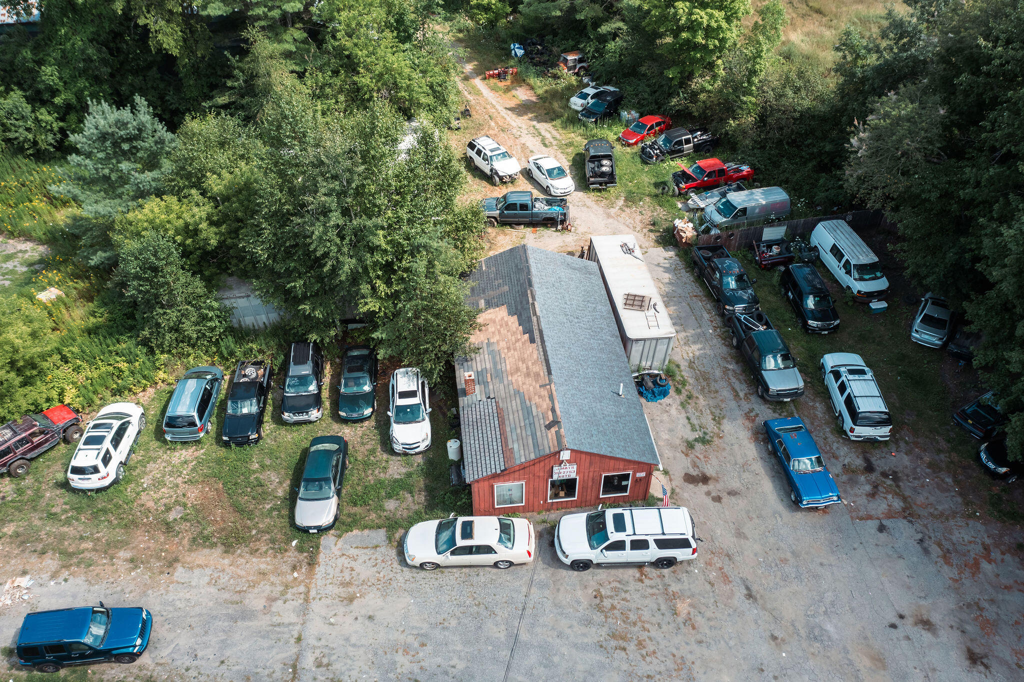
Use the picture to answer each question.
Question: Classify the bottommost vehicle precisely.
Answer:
car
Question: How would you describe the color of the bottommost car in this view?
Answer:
blue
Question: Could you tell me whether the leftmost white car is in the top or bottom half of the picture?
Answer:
bottom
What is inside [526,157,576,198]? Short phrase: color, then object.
white car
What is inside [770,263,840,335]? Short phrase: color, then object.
black car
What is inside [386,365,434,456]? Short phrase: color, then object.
white car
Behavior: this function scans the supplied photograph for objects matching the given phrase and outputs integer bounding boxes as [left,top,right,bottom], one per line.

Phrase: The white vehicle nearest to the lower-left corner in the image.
[69,398,167,492]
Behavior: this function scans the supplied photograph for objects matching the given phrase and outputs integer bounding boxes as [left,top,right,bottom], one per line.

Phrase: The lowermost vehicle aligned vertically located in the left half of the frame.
[295,435,351,533]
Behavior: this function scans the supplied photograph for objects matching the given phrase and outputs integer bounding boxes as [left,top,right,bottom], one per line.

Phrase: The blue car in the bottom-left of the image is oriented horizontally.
[5,603,154,677]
